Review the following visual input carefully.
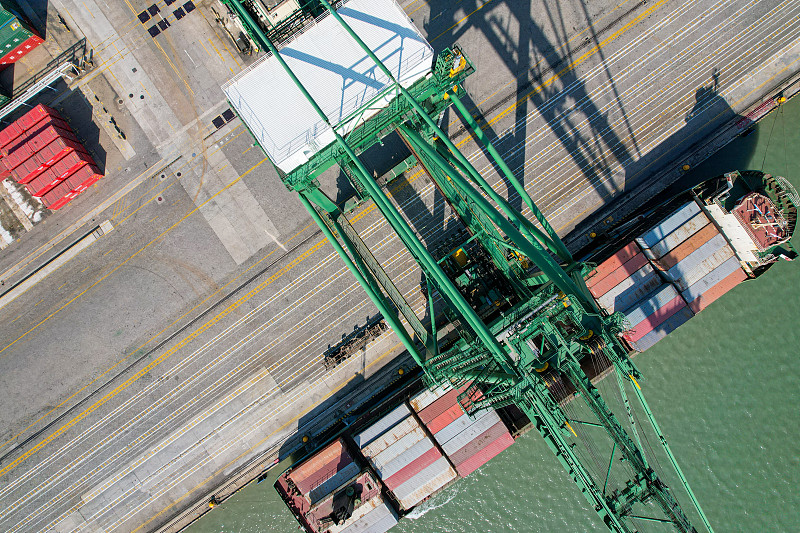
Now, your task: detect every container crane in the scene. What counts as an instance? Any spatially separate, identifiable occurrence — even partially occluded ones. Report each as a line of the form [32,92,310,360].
[219,0,715,533]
